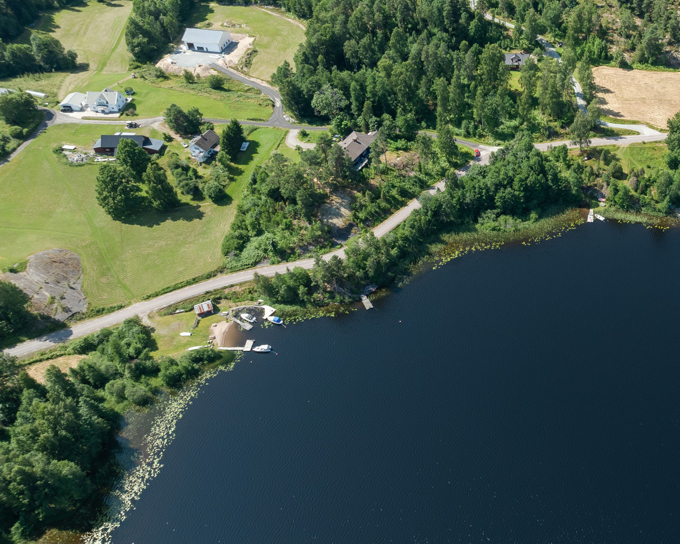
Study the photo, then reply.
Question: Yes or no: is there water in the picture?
Yes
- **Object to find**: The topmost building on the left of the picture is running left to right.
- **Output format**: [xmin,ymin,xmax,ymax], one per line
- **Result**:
[181,27,235,52]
